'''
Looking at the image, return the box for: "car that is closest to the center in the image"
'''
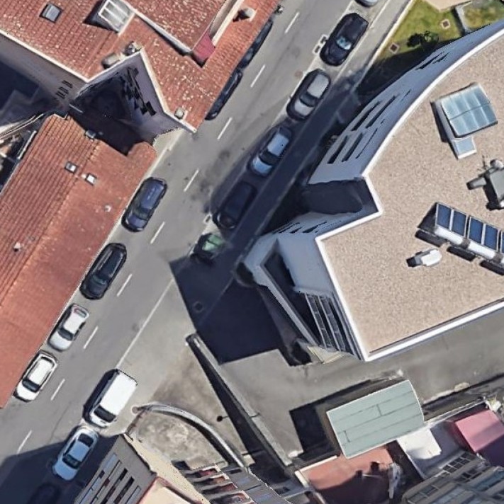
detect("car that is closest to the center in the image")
[214,179,260,228]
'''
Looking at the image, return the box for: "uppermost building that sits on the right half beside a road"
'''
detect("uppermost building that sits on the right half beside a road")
[247,23,504,366]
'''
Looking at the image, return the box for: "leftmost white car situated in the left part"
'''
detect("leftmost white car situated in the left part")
[14,352,59,400]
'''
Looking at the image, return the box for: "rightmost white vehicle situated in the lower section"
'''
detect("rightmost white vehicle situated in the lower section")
[90,369,137,424]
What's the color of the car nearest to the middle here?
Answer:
black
